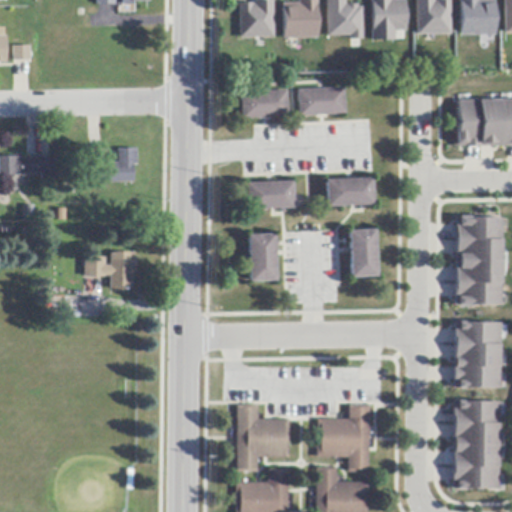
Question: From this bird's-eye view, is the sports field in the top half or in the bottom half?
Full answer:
The bottom half of the photo is where the sports field is.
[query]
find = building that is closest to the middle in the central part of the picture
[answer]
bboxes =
[250,234,279,282]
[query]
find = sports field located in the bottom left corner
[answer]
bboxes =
[54,454,130,512]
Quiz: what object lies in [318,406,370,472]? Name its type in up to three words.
building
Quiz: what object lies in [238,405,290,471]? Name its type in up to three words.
building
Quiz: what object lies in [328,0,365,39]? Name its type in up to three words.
house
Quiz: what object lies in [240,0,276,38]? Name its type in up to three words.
house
